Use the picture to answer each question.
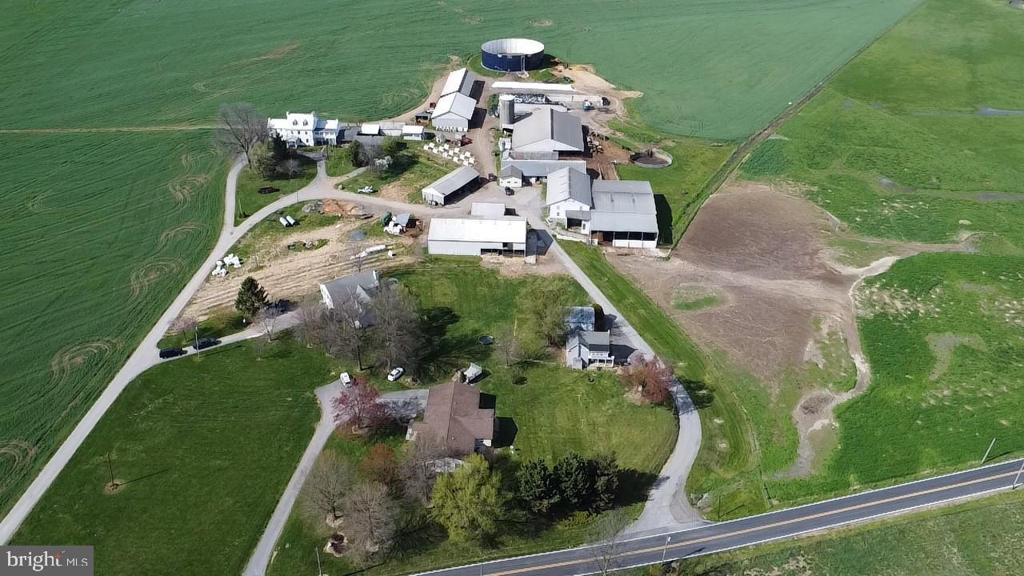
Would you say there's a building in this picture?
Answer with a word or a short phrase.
Yes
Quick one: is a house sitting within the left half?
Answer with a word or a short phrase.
Yes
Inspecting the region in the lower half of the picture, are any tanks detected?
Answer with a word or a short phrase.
No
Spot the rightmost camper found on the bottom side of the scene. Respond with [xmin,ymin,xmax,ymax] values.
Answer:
[463,362,487,382]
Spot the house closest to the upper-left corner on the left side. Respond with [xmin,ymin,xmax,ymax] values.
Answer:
[265,109,341,150]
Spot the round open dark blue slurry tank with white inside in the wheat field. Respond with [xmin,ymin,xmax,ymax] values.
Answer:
[479,32,546,68]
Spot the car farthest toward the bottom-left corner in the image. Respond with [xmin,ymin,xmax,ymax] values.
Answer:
[157,346,186,361]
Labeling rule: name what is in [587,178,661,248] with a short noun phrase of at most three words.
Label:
building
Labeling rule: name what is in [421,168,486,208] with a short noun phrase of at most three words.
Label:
shed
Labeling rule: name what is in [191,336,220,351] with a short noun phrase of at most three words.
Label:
car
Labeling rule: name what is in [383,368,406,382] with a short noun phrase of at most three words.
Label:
car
